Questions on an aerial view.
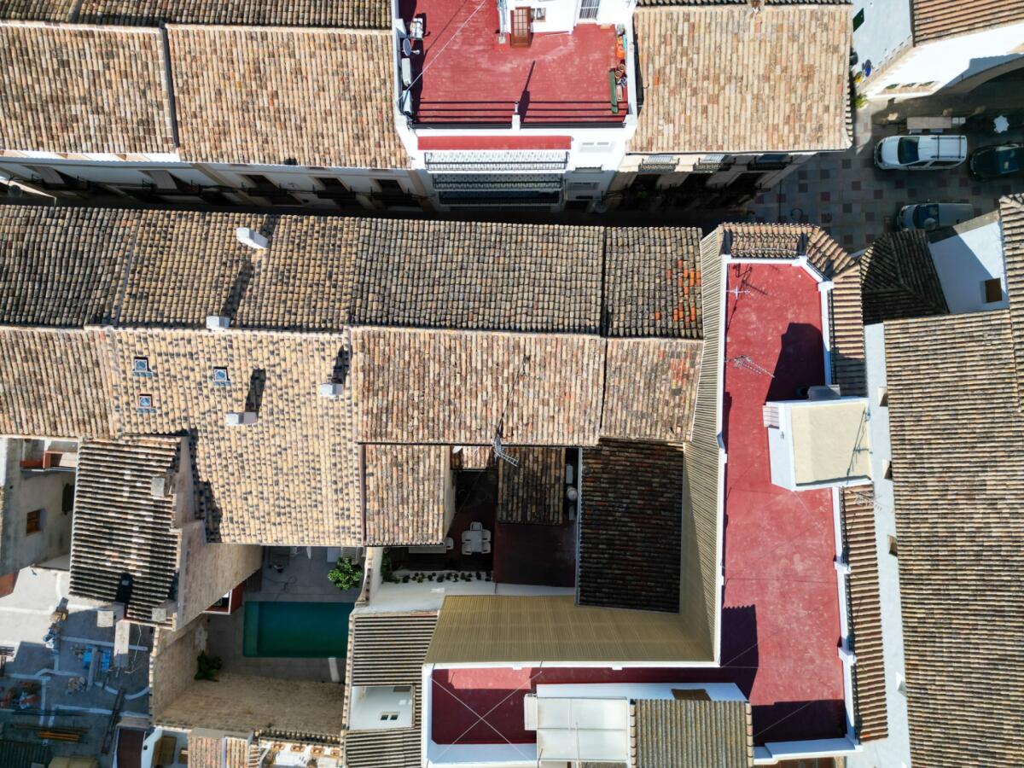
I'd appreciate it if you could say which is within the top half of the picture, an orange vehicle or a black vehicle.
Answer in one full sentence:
You can see a black vehicle within the top half of the picture.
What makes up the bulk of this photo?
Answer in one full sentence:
The largest share of the image is taken up by buildings.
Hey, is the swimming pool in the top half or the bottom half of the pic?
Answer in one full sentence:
The swimming pool sits in the bottom half of the picture.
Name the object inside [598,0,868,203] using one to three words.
house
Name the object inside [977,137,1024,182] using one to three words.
car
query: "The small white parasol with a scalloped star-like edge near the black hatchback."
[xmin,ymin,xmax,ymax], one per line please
[970,115,1010,143]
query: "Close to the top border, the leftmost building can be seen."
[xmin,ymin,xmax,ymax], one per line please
[0,0,252,210]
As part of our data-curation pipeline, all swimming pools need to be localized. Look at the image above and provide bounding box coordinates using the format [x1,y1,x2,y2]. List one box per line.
[238,596,359,663]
